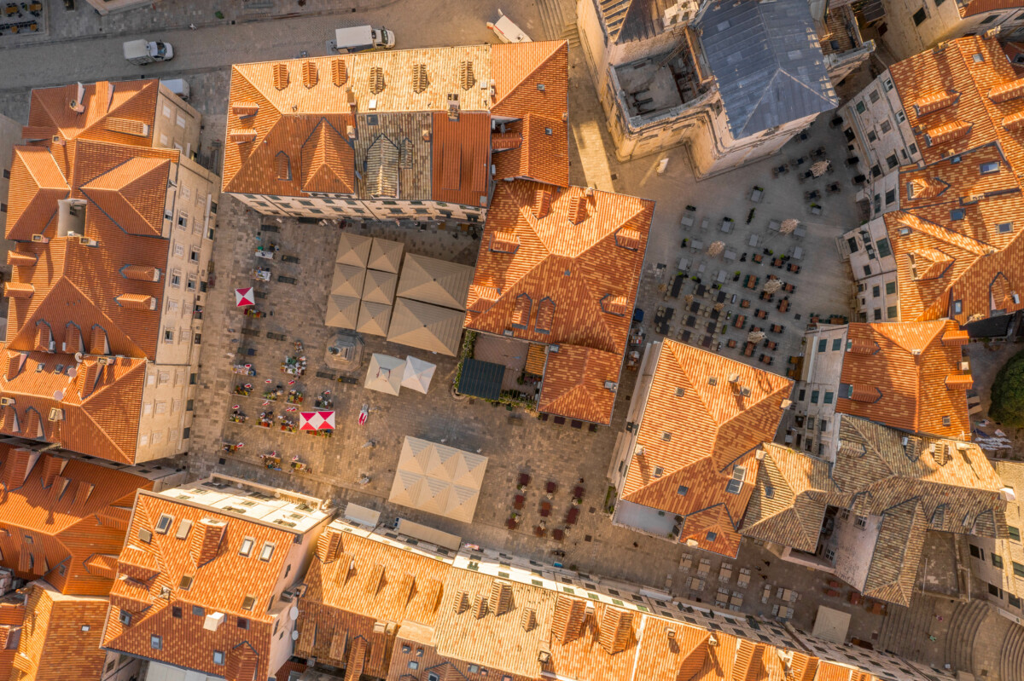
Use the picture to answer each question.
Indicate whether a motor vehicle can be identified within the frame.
Yes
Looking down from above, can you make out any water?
No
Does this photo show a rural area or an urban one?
urban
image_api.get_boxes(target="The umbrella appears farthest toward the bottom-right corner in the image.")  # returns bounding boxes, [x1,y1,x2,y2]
[811,605,851,644]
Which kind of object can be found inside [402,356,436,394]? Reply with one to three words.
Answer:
tent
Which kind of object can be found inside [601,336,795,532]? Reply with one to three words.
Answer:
house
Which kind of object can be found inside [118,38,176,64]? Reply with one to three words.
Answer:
vehicle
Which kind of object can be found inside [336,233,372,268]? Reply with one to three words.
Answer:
umbrella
